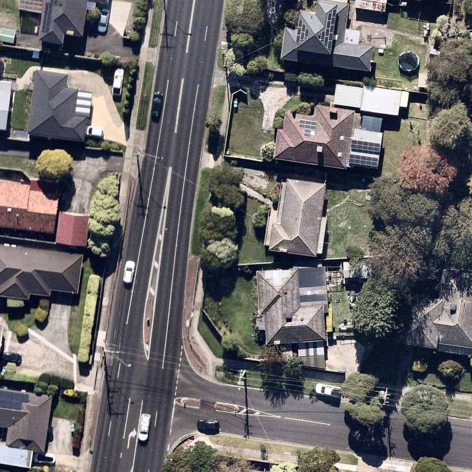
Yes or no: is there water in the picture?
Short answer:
No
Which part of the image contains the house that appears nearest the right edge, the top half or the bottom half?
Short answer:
bottom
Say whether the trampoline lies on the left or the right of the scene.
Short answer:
right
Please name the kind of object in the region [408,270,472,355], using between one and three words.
house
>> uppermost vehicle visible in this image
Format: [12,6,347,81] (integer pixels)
[96,7,111,35]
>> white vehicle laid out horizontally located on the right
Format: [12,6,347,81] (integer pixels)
[313,383,344,398]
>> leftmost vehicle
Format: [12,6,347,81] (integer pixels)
[0,351,26,365]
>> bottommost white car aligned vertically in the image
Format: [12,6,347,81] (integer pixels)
[137,413,152,441]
